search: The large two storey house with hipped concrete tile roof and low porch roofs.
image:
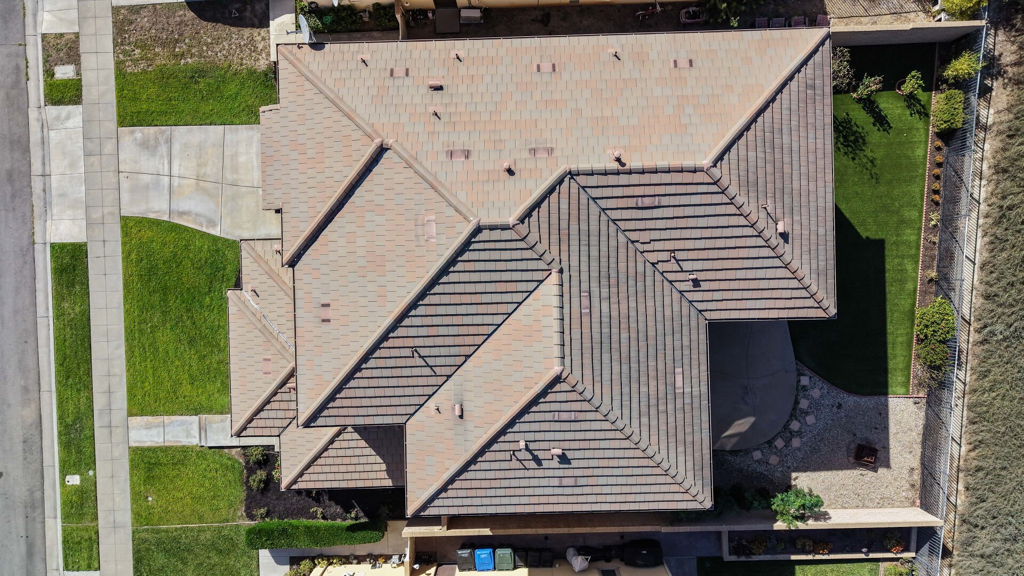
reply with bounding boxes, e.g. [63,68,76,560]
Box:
[227,28,838,518]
